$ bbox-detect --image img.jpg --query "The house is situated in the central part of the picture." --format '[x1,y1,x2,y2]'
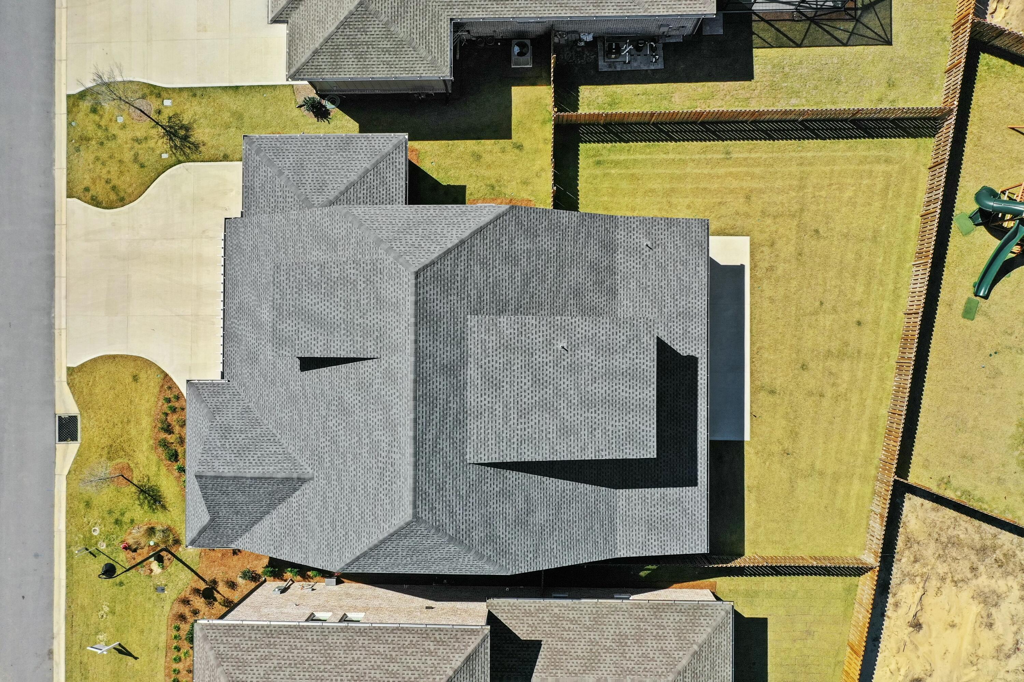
[183,131,712,577]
